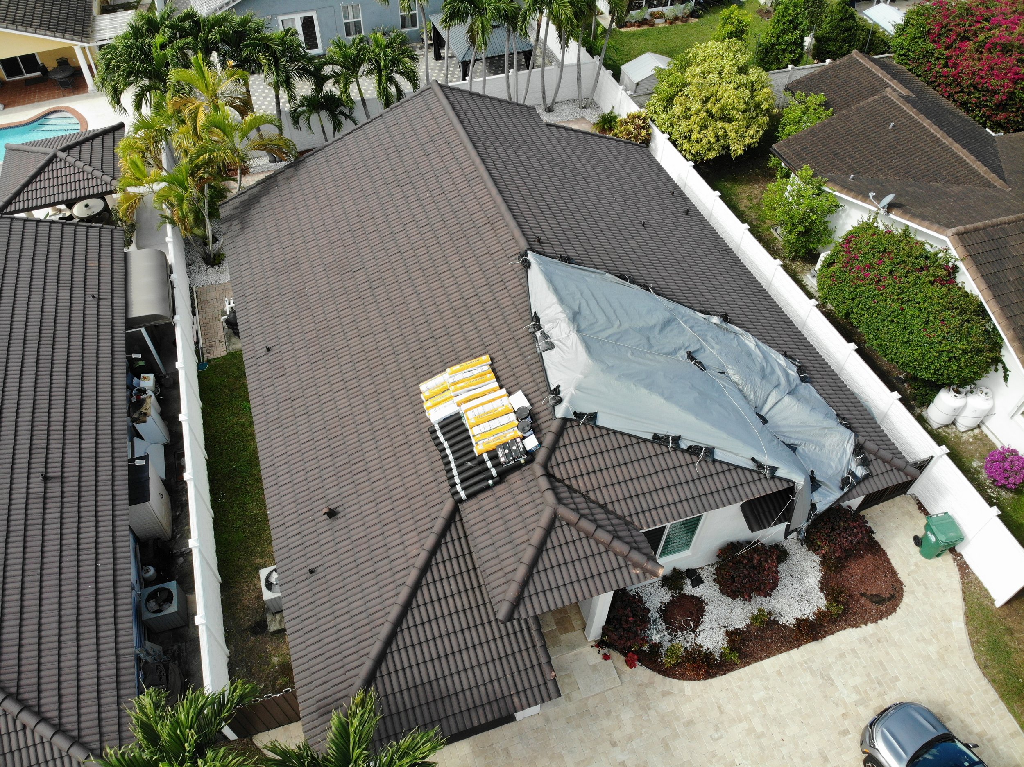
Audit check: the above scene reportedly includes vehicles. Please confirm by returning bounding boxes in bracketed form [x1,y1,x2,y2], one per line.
[861,695,996,767]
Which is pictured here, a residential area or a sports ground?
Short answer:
residential area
